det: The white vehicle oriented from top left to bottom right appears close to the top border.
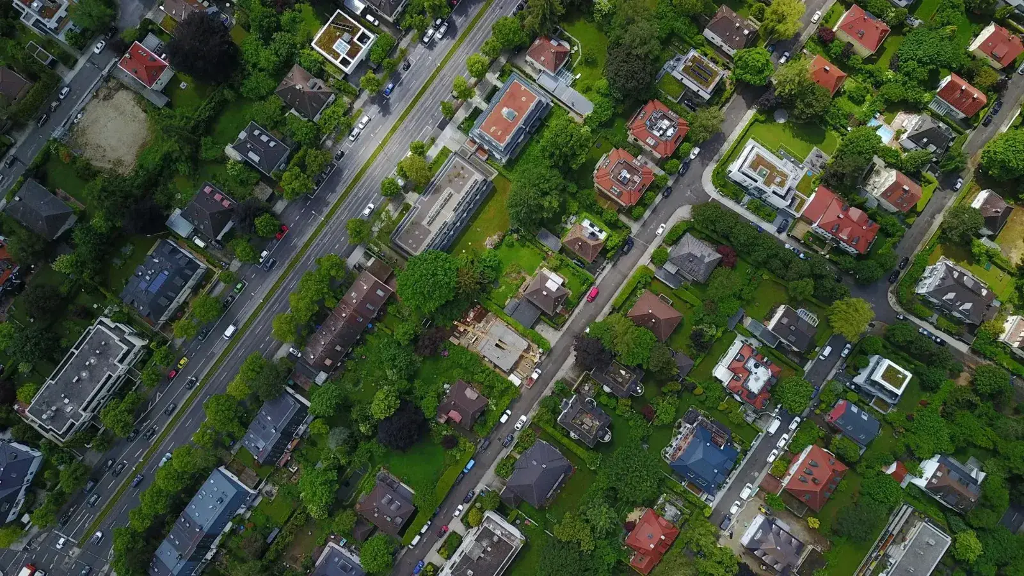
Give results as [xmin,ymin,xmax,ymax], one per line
[363,13,380,28]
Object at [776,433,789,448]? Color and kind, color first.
white vehicle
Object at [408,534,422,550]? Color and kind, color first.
white vehicle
